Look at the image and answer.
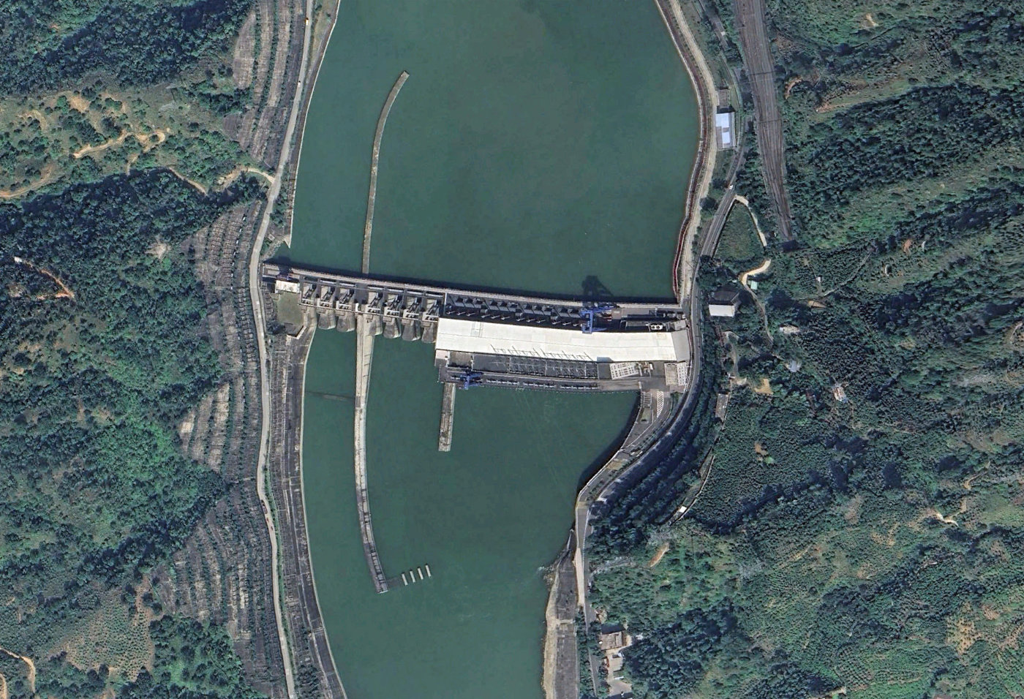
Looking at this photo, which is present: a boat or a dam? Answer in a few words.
dam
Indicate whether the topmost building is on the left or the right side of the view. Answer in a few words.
right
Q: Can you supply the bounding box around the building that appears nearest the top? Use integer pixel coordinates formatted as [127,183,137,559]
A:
[716,112,736,147]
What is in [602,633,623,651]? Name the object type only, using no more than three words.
building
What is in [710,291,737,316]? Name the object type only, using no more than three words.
building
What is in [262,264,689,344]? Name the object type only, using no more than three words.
dam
